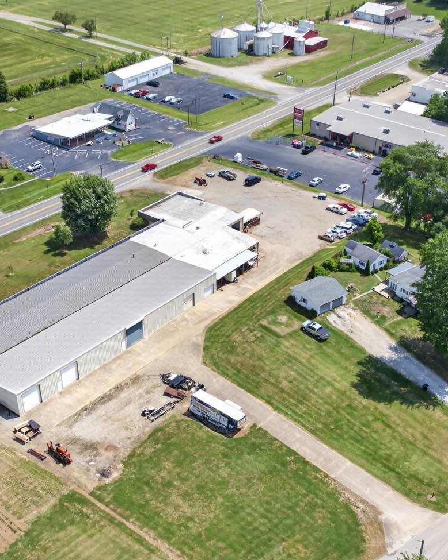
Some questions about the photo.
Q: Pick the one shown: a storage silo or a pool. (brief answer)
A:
storage silo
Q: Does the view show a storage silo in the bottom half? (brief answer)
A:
No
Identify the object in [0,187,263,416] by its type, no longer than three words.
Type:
warehouse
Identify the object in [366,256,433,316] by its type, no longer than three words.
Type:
house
